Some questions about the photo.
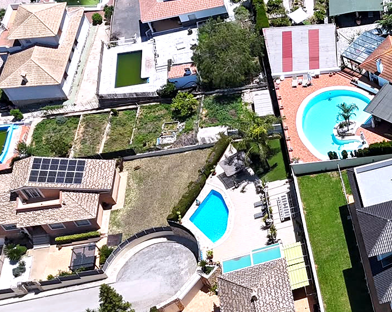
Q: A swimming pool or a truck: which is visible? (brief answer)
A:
swimming pool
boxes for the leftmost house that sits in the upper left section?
[0,1,89,102]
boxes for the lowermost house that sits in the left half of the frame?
[0,155,122,243]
